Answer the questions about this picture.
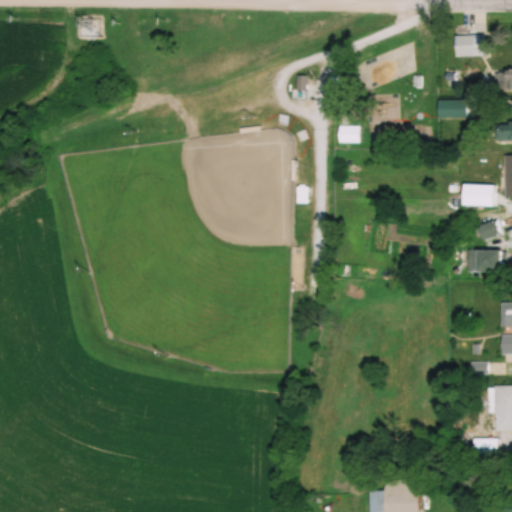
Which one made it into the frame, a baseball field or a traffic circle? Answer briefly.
baseball field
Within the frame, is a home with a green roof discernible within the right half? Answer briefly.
Yes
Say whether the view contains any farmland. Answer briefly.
Yes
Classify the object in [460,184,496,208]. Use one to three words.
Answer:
building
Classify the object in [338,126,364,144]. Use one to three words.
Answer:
building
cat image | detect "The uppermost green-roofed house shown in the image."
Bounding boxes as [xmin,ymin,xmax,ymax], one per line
[436,100,468,118]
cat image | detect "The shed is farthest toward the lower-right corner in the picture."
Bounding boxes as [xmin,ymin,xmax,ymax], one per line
[472,438,500,450]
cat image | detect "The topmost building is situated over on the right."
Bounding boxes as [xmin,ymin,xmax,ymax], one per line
[452,35,480,58]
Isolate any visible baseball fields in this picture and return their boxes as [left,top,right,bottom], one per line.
[62,132,306,374]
